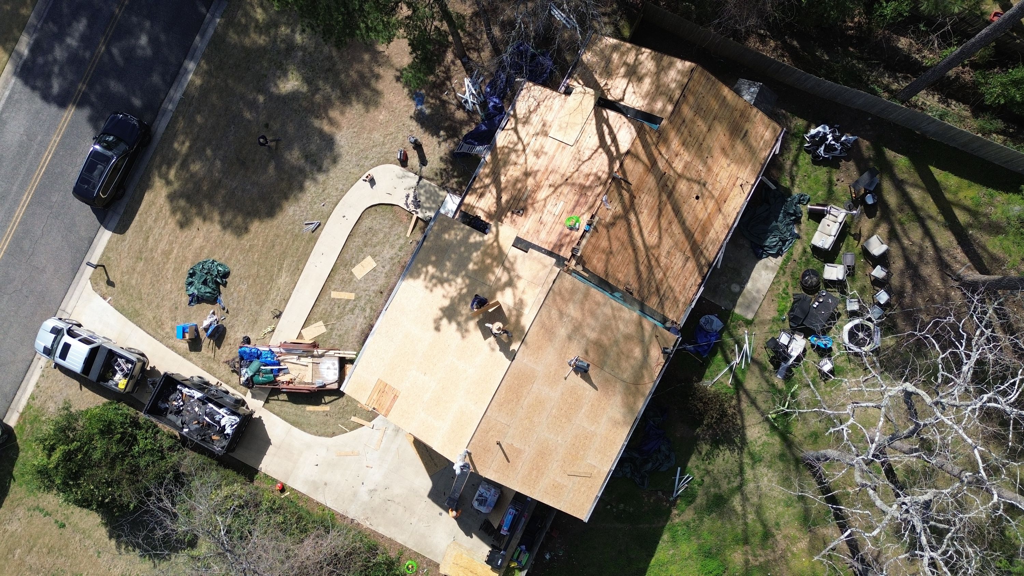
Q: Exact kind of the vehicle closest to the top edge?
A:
car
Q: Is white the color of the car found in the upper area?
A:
No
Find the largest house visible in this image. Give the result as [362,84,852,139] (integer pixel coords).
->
[338,31,788,524]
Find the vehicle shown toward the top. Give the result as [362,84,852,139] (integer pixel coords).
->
[72,118,146,214]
